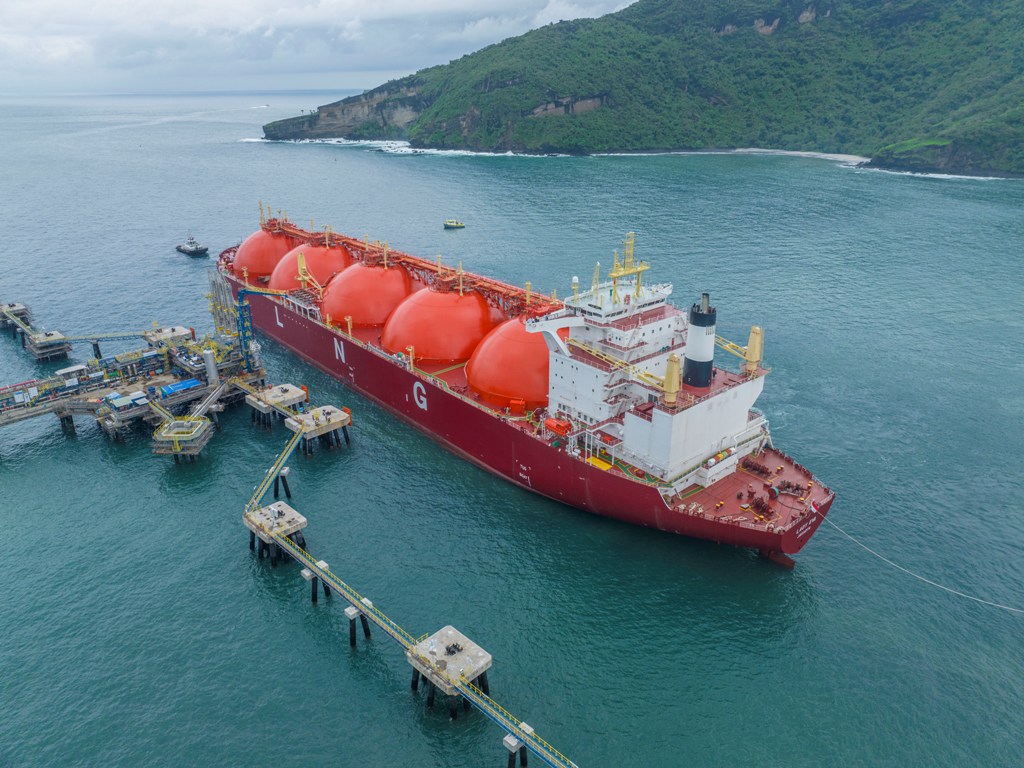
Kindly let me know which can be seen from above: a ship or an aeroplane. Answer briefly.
ship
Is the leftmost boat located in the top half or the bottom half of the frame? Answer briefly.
top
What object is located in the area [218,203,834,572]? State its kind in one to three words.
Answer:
ship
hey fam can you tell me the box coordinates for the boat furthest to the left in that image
[174,235,206,255]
